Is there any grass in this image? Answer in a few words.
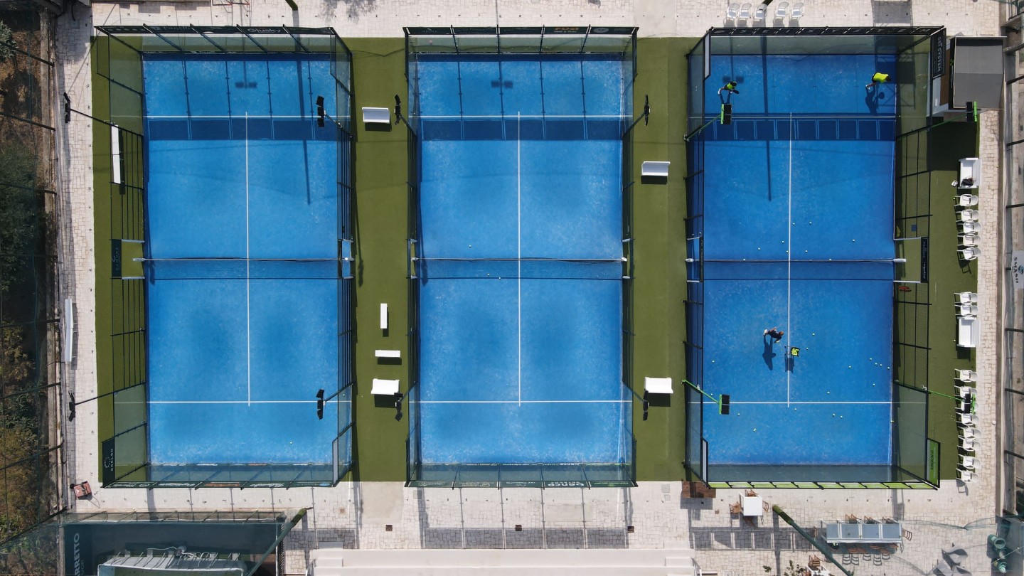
Yes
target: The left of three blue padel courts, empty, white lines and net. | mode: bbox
[142,52,353,465]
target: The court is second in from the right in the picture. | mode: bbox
[415,53,624,465]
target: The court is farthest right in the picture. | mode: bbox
[684,53,895,465]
